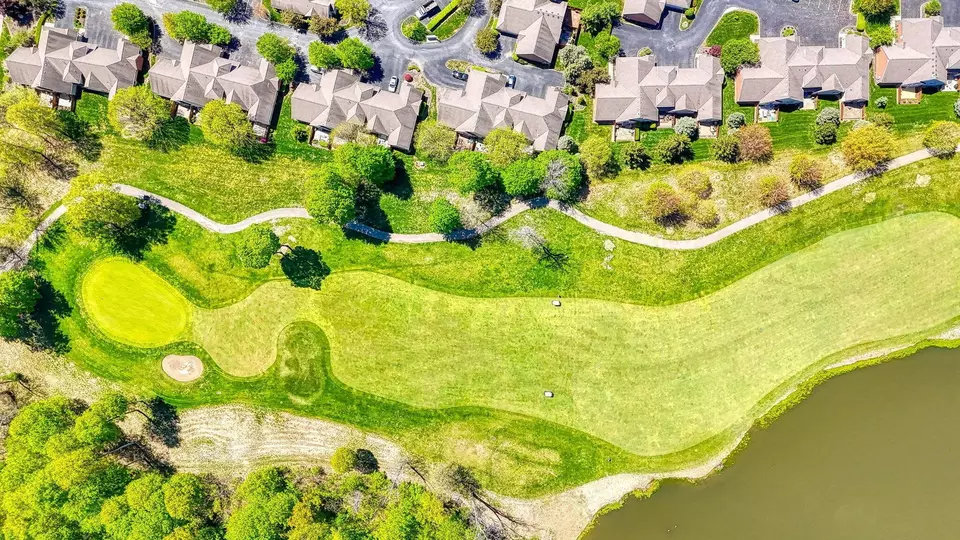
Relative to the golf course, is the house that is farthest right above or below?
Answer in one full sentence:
The house that is farthest right is located above the golf course in this view.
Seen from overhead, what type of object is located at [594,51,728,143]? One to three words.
house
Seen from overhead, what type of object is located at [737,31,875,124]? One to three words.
house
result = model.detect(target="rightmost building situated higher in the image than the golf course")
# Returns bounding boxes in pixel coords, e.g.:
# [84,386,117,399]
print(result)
[876,13,960,107]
